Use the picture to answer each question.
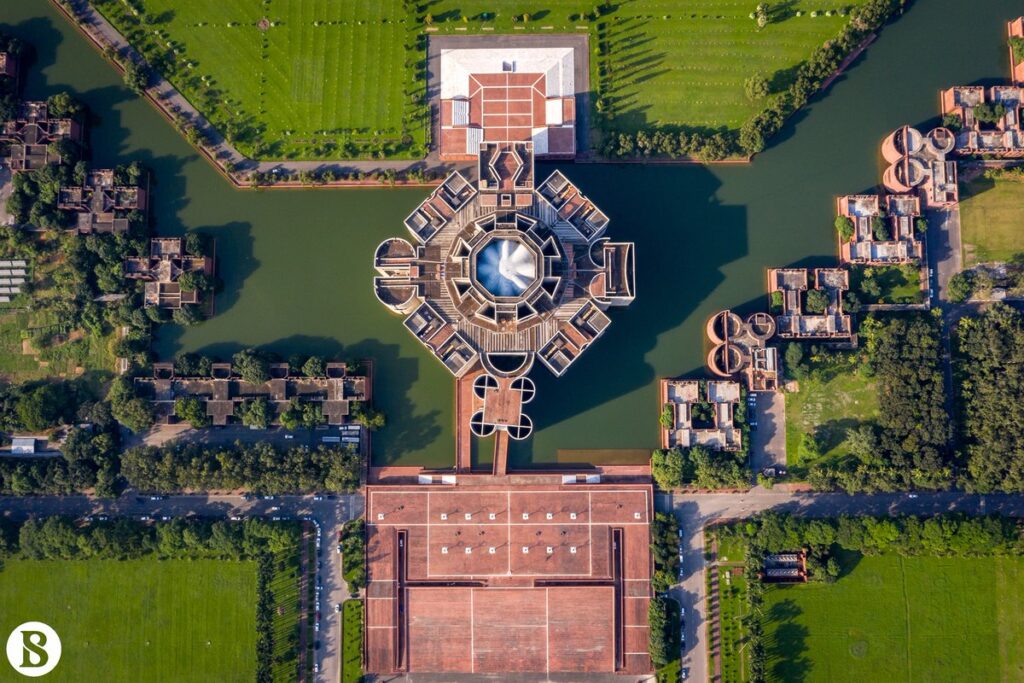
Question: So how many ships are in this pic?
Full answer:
No ships are visible.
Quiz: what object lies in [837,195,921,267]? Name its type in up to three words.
house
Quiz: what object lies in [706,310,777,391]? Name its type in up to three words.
building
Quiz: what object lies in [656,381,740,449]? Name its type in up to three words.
house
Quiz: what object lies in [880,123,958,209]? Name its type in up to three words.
building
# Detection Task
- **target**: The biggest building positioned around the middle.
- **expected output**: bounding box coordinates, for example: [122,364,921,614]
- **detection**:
[375,136,634,441]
